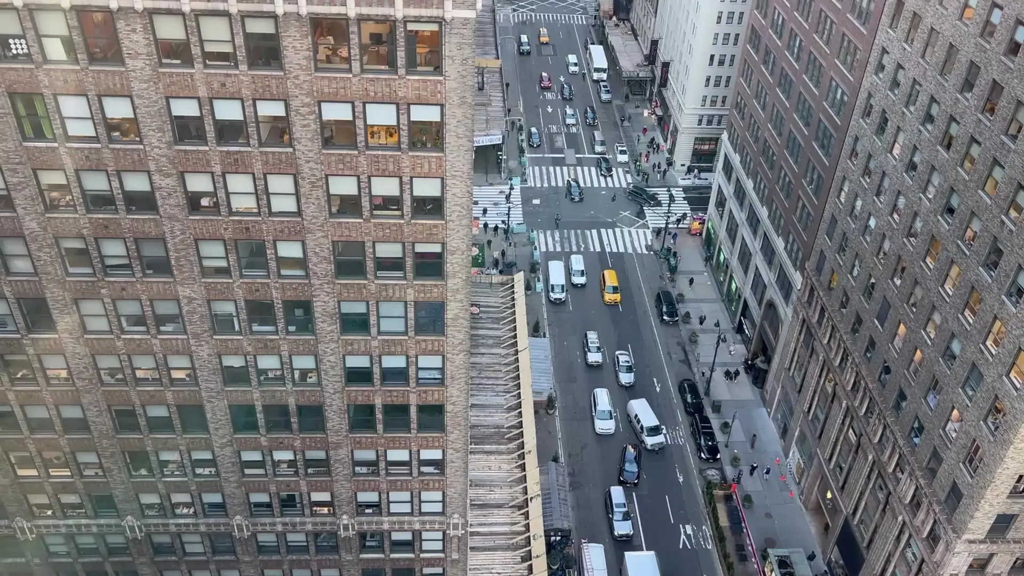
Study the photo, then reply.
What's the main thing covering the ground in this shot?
buildings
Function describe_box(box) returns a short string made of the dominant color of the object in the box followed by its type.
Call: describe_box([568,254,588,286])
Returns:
white vehicle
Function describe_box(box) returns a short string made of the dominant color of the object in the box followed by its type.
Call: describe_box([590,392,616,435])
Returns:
white car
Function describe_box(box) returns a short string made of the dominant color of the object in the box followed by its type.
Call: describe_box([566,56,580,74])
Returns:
white car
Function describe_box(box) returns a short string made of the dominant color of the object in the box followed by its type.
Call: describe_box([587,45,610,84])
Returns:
white truck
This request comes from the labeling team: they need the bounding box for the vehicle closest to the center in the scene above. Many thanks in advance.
[545,257,567,302]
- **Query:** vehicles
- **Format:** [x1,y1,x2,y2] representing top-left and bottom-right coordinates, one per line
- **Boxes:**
[621,551,660,576]
[562,108,577,126]
[595,156,614,177]
[564,177,583,202]
[689,415,721,461]
[590,392,616,435]
[607,486,637,540]
[610,350,634,387]
[538,29,550,44]
[566,56,580,74]
[527,128,542,147]
[624,396,665,451]
[623,182,661,206]
[582,330,604,365]
[559,84,574,100]
[583,106,598,125]
[676,379,705,417]
[579,37,592,51]
[617,443,642,487]
[545,257,567,302]
[587,45,610,84]
[568,254,588,286]
[600,271,620,305]
[539,74,552,89]
[519,38,531,55]
[613,143,629,163]
[597,84,612,102]
[655,289,680,324]
[590,131,607,154]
